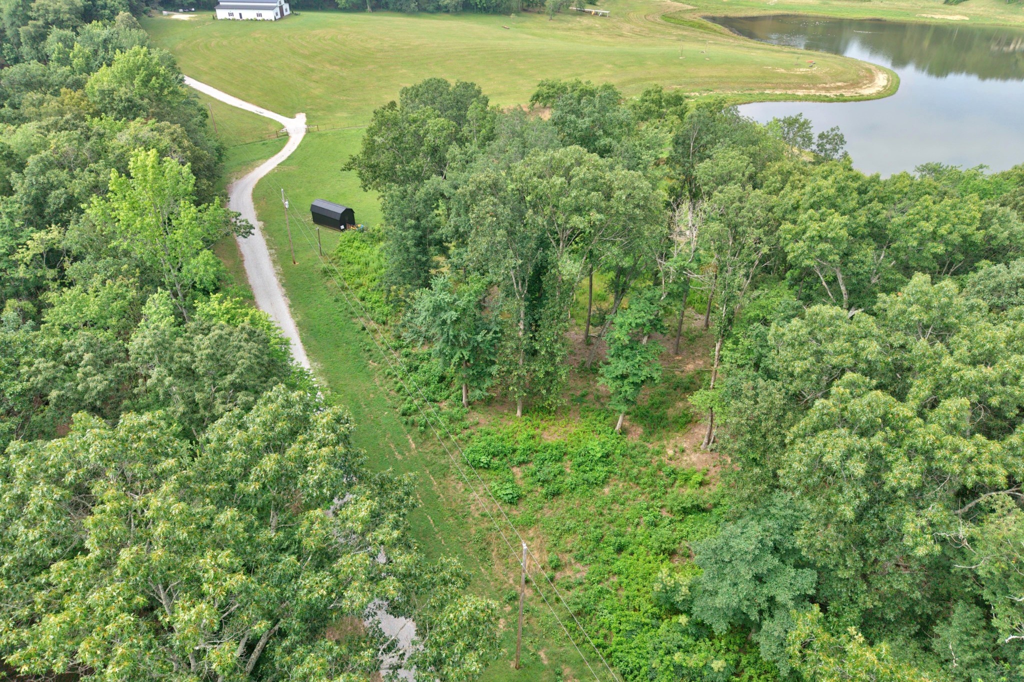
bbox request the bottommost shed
[310,199,358,231]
